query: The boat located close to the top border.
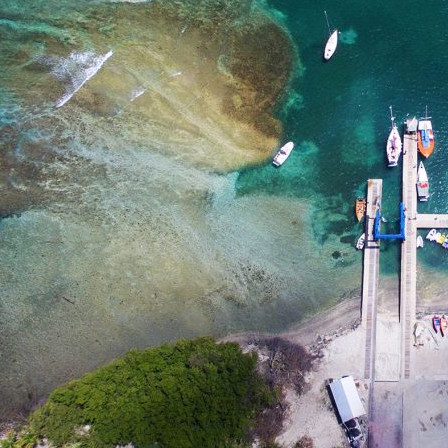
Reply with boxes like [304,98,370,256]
[324,7,339,62]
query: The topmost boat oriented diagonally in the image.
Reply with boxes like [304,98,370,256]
[271,142,293,169]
